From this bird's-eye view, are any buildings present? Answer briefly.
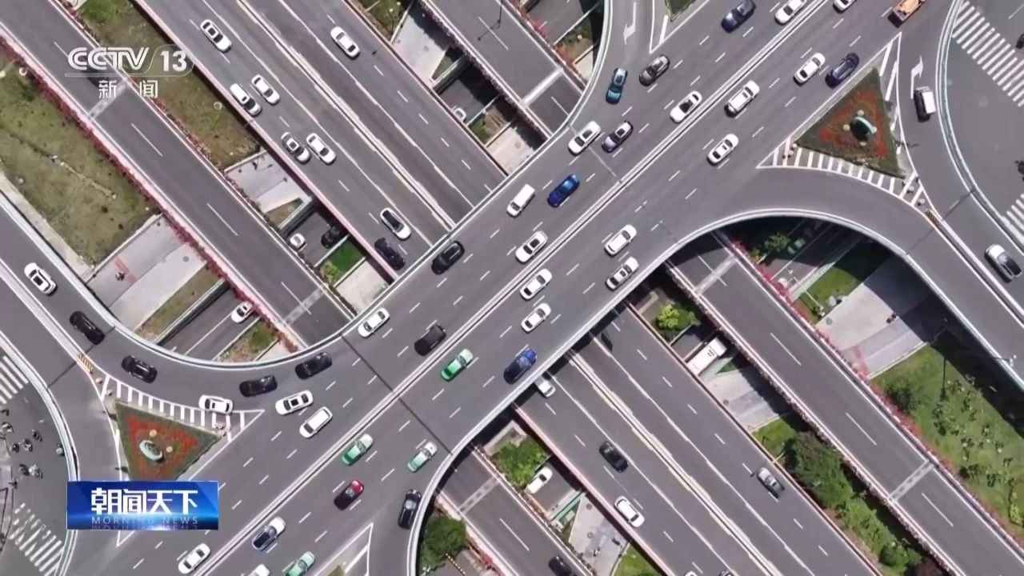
No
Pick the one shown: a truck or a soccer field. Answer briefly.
truck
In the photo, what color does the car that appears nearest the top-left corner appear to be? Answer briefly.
white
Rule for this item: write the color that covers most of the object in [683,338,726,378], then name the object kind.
white truck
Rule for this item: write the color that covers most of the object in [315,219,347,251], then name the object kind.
black car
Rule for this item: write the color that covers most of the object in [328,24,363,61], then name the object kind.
white car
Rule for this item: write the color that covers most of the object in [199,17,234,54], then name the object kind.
white car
